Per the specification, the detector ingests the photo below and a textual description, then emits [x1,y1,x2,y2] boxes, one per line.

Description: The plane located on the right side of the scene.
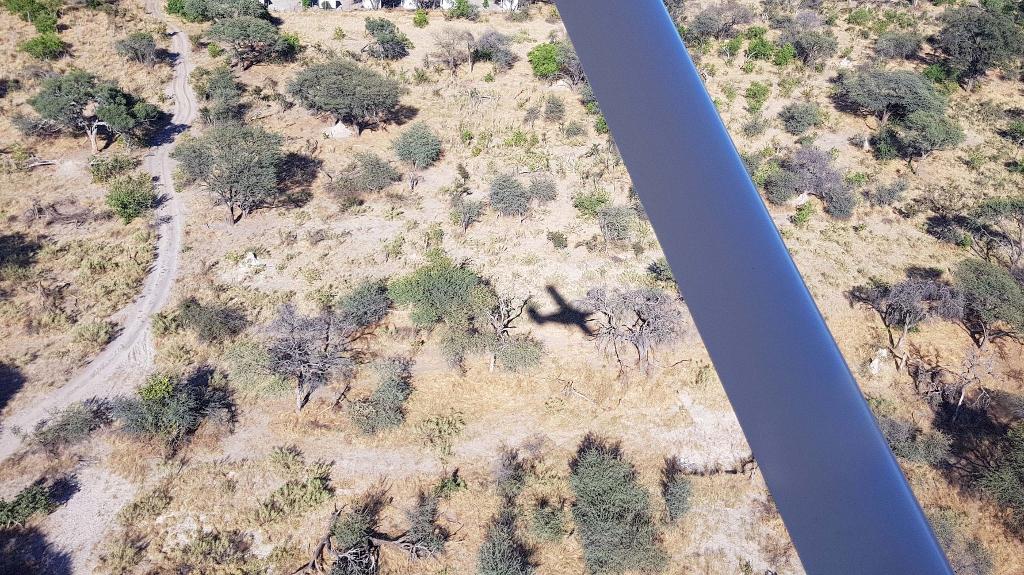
[555,0,951,575]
